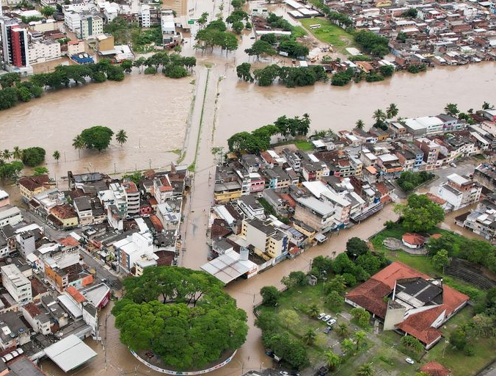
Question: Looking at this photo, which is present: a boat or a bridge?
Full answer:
Of the two, only a bridge appears.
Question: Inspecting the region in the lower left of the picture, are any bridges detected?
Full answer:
No, I can find no bridge in the lower left of the picture.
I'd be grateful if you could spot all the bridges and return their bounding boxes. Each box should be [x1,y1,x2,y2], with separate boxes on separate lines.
[176,66,221,169]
